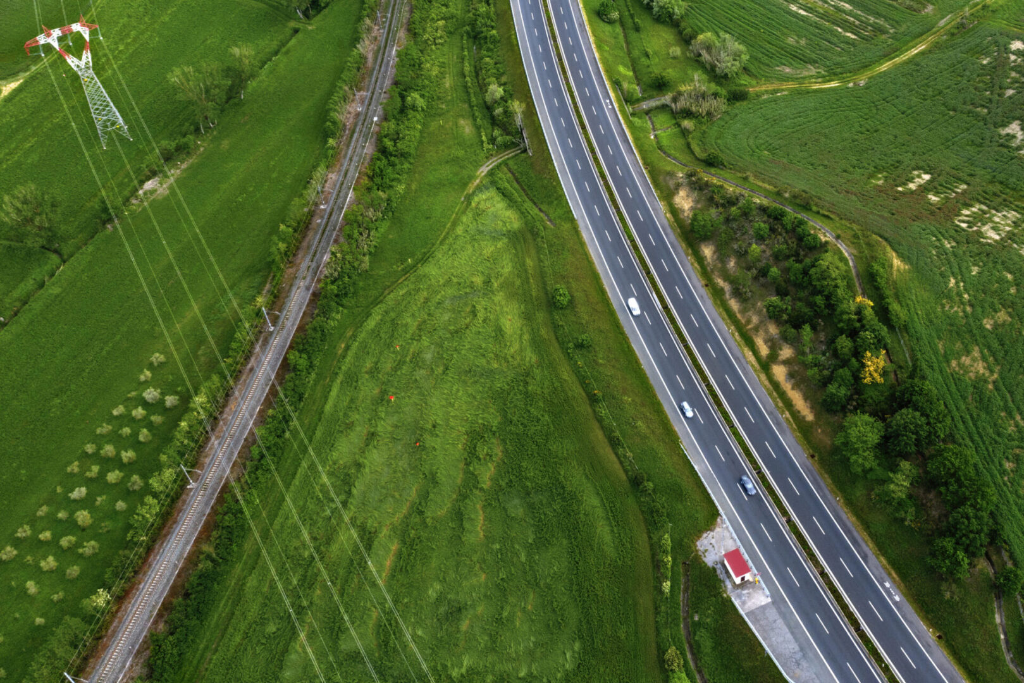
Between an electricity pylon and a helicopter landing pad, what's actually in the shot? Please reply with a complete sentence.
The image shows an electricity pylon.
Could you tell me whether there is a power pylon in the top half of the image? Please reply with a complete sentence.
Yes, the scene does show a power pylon in the top half of the image.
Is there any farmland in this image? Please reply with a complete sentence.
Yes, farmland can be seen from above here.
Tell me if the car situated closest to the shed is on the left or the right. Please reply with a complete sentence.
You can find the car situated closest to the shed on the right side of the picture.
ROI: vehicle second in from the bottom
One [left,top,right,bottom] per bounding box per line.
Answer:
[680,399,696,420]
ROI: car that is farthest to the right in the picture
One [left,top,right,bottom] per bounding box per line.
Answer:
[738,471,760,498]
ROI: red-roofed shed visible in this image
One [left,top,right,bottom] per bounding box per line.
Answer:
[720,549,751,584]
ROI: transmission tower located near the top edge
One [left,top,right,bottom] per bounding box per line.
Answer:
[24,16,135,148]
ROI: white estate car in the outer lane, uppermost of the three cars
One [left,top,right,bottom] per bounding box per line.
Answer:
[627,297,643,317]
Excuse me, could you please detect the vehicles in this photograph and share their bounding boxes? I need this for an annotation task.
[680,399,696,420]
[627,297,643,317]
[738,471,760,498]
